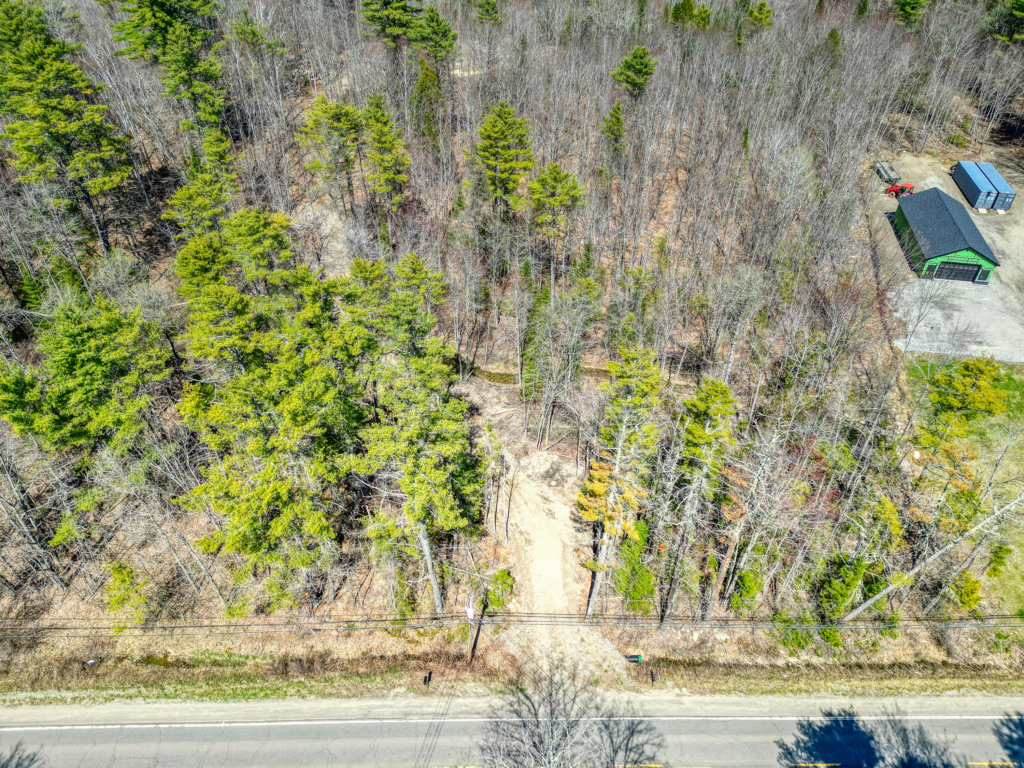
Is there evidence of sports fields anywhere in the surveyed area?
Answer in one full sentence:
No, there appears to be no sports field in this shot.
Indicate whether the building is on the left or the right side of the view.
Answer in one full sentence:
It is on the right.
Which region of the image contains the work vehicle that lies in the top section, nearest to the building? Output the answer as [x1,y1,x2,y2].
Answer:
[876,180,915,197]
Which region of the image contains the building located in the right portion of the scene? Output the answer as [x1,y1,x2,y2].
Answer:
[893,187,1001,285]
